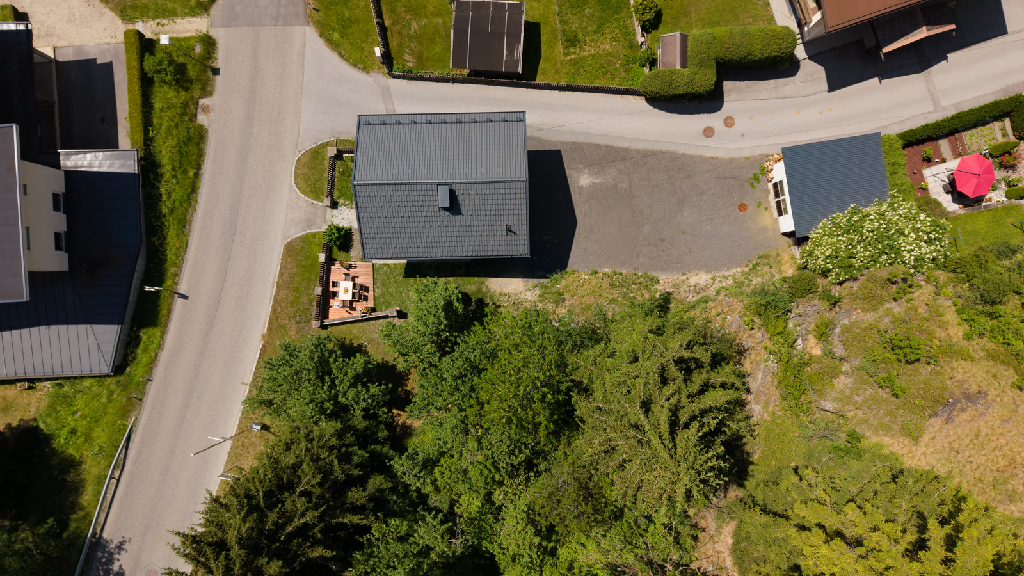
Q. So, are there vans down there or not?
No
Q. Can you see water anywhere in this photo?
No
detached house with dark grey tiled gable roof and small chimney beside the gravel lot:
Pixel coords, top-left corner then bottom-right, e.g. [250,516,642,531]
[349,109,530,262]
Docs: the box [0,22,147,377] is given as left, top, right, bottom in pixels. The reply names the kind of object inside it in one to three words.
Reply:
house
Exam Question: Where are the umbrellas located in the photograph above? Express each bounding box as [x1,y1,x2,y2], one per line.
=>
[914,153,996,198]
